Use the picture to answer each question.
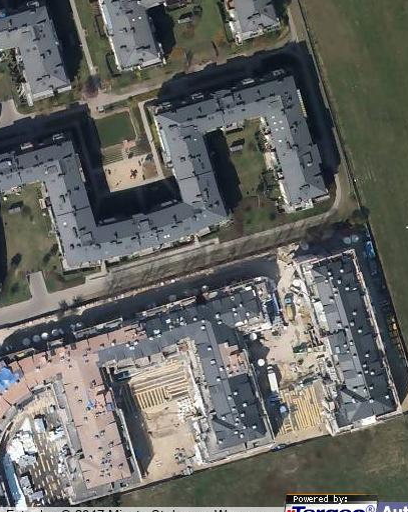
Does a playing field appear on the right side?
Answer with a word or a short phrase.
No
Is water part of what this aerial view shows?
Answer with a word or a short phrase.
No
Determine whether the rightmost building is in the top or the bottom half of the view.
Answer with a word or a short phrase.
bottom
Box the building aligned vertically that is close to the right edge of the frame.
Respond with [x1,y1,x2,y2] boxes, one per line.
[296,252,402,437]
